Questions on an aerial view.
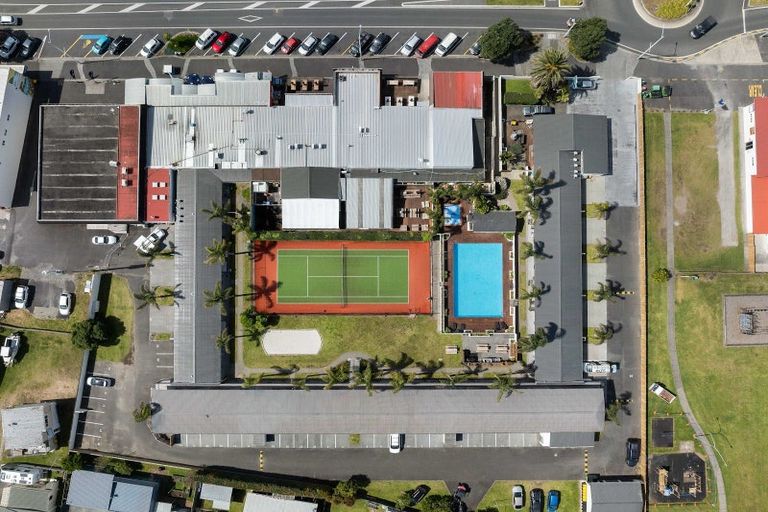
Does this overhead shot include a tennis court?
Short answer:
Yes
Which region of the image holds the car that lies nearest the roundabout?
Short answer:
top right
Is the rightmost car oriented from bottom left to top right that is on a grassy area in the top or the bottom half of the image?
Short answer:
bottom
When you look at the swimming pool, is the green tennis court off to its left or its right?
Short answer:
left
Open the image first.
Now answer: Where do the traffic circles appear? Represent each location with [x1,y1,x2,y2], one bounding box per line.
[633,0,703,28]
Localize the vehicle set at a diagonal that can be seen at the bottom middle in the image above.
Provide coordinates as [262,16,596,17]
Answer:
[407,481,429,507]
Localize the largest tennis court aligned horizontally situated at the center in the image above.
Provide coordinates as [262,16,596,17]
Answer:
[254,241,430,314]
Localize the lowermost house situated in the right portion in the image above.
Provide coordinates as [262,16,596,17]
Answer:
[583,475,646,512]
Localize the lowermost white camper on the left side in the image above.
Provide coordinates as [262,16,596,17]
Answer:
[1,463,46,483]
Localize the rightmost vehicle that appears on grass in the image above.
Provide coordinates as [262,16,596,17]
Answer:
[646,381,679,406]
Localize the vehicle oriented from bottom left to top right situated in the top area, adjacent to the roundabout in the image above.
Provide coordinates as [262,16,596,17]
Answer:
[688,14,719,40]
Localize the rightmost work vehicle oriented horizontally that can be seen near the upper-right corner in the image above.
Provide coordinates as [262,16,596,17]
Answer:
[645,84,676,98]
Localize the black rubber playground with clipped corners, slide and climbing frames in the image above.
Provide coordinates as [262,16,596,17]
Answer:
[650,453,706,504]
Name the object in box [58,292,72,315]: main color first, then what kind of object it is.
white vehicle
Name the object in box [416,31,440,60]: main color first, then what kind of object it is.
red vehicle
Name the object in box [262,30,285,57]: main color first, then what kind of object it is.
white car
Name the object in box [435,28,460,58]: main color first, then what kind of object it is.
white vehicle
